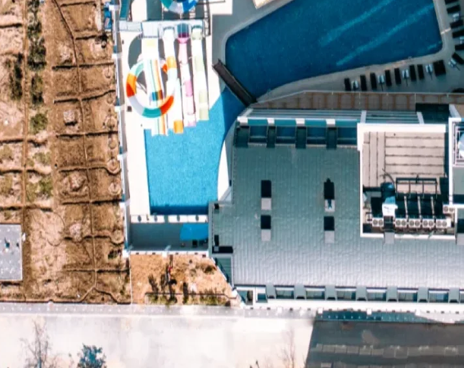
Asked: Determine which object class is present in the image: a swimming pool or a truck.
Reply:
swimming pool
